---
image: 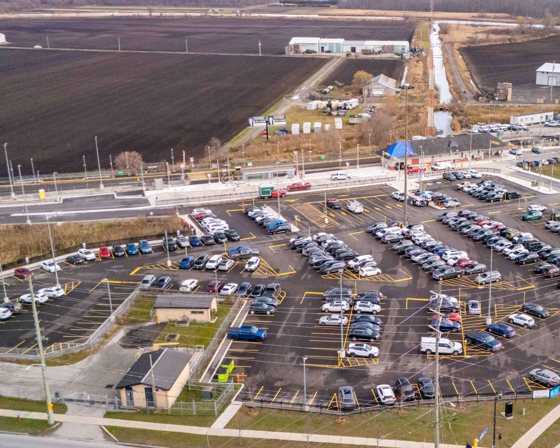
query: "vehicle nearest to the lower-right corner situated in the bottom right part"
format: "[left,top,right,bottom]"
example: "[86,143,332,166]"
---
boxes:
[528,371,560,388]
